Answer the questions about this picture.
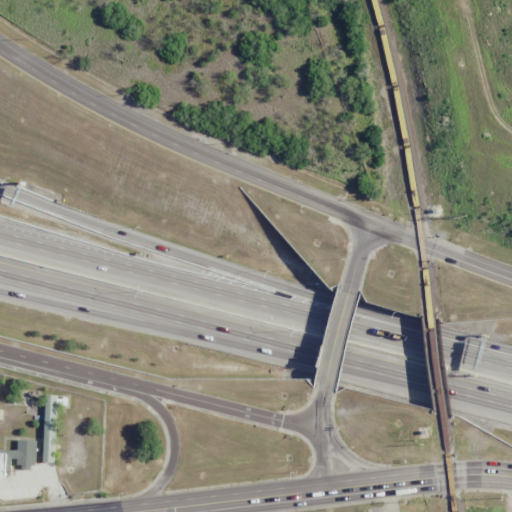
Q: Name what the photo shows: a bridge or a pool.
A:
bridge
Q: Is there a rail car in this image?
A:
Yes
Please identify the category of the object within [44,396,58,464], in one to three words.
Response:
building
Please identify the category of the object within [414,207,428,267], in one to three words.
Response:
rail car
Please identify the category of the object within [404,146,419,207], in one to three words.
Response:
rail car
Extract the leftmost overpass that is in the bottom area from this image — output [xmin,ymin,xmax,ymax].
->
[313,288,360,394]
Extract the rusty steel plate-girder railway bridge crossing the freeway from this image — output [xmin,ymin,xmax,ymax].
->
[420,314,454,421]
